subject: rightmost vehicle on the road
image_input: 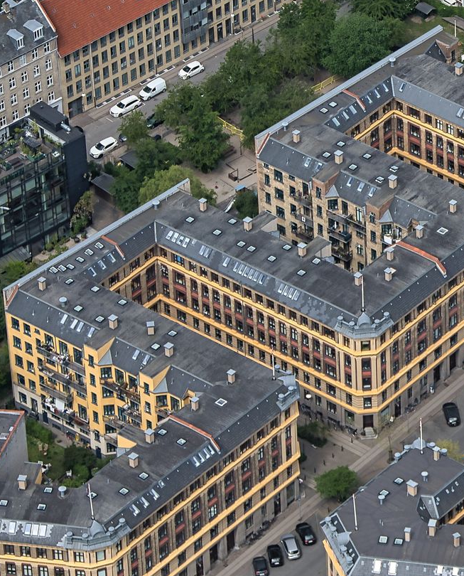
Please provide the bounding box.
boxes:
[442,403,461,428]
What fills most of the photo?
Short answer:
buildings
